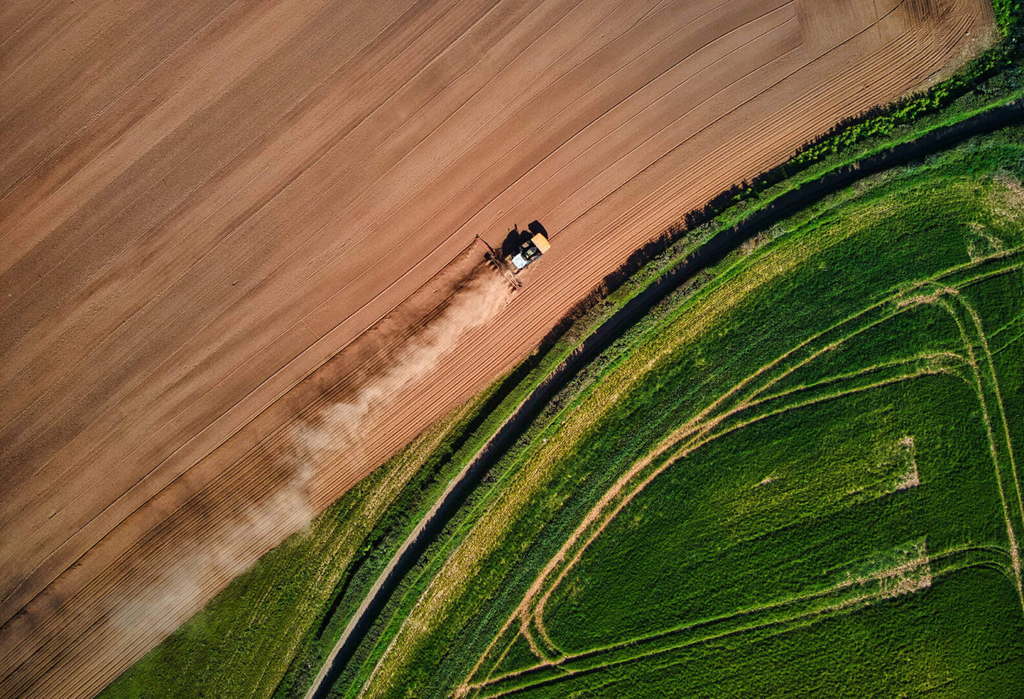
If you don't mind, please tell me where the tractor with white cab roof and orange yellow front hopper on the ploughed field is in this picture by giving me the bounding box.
[504,233,550,276]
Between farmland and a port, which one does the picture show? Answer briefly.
farmland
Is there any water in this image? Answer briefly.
No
